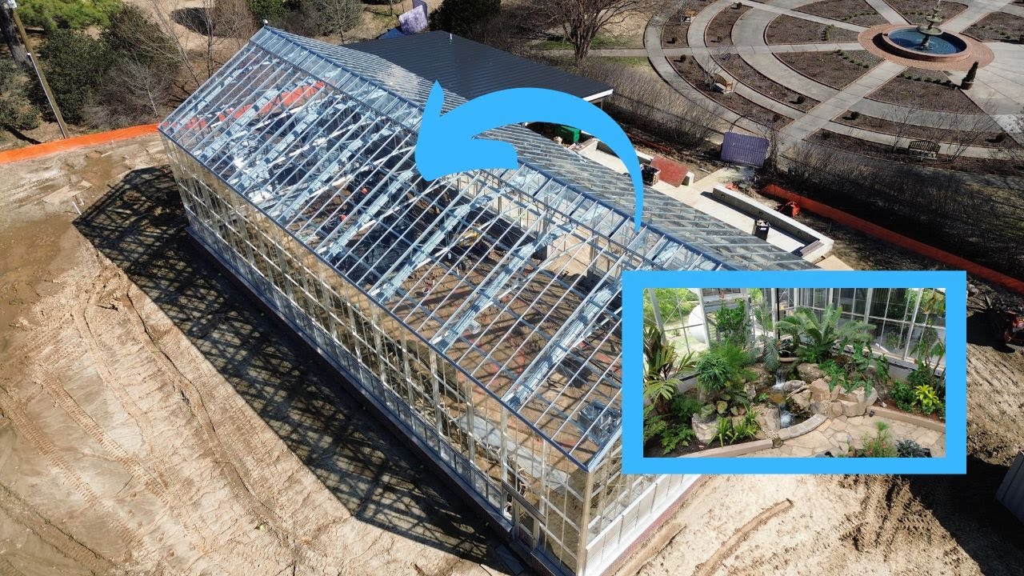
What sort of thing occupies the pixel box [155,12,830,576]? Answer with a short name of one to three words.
greenhouse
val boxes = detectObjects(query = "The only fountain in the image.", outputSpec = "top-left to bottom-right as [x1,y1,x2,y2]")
[858,0,995,71]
